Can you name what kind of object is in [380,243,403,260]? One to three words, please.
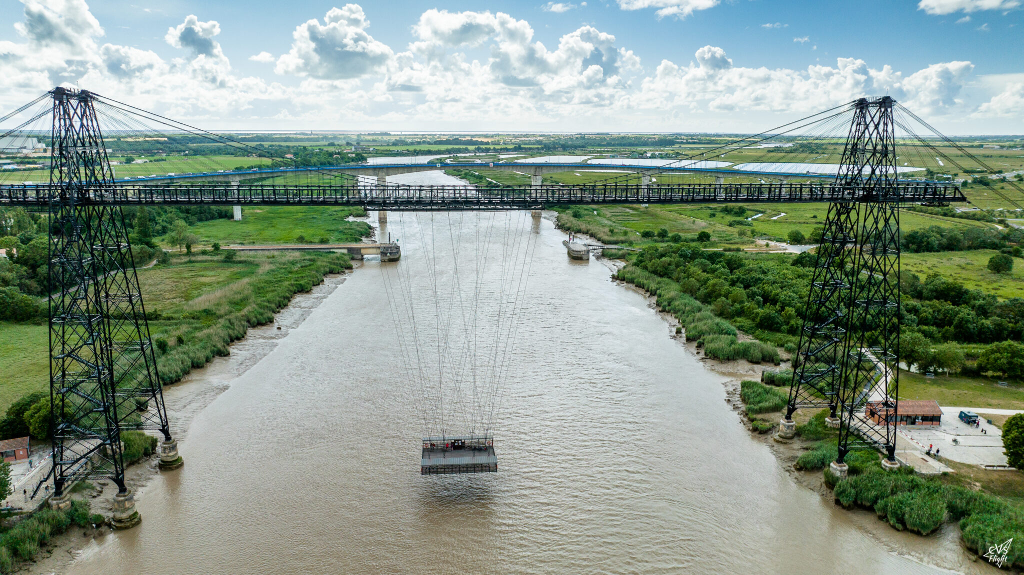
pier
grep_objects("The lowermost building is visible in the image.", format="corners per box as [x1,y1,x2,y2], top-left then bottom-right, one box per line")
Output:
[0,433,34,462]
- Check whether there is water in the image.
Yes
